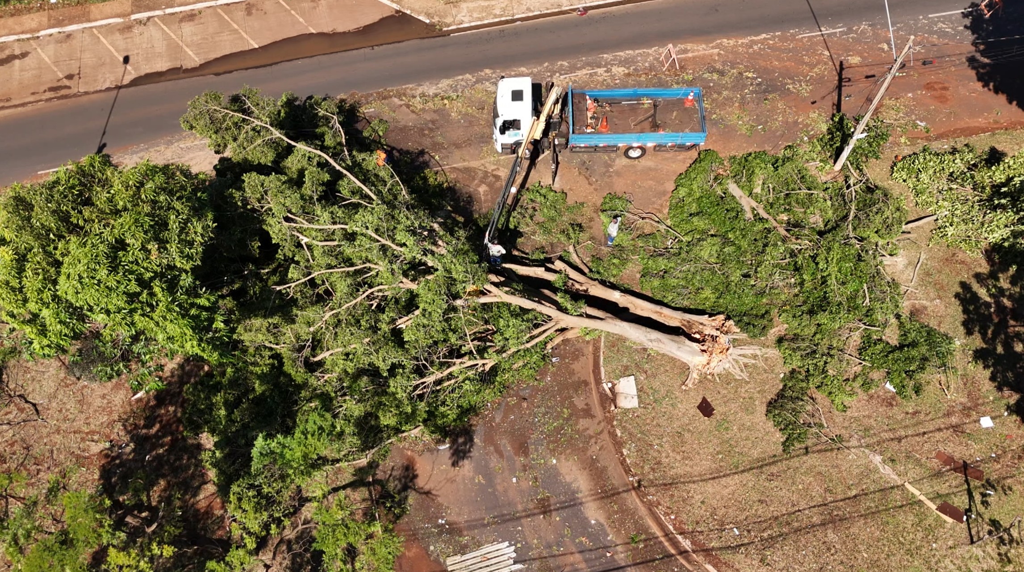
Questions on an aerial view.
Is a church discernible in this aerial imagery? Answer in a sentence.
No, there is no church in the image.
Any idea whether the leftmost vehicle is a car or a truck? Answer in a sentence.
I'd say the leftmost vehicle is a truck.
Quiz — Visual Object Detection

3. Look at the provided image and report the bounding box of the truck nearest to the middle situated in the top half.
[484,81,709,280]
